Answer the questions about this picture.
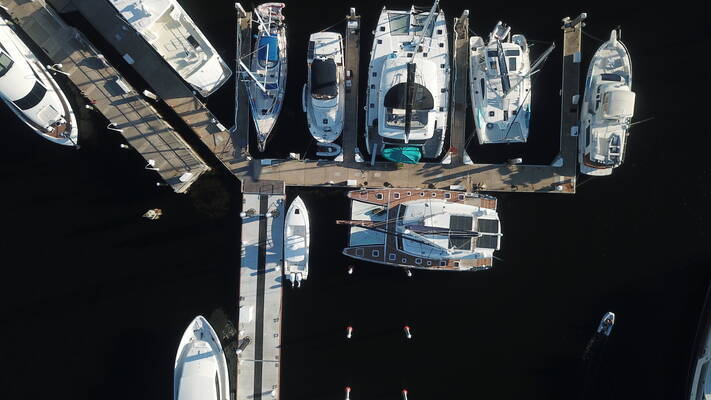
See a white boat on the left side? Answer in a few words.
Yes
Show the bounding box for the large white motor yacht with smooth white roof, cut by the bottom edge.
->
[171,316,232,400]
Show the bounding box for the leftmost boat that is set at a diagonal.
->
[0,12,86,148]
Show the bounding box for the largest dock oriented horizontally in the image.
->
[240,159,576,192]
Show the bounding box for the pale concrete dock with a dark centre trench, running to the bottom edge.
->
[236,193,286,400]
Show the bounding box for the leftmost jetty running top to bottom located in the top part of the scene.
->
[237,12,251,159]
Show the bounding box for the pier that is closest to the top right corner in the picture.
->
[560,22,580,167]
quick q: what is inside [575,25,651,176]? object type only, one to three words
boat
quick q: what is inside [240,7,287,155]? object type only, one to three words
boat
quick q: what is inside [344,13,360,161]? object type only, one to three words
pier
